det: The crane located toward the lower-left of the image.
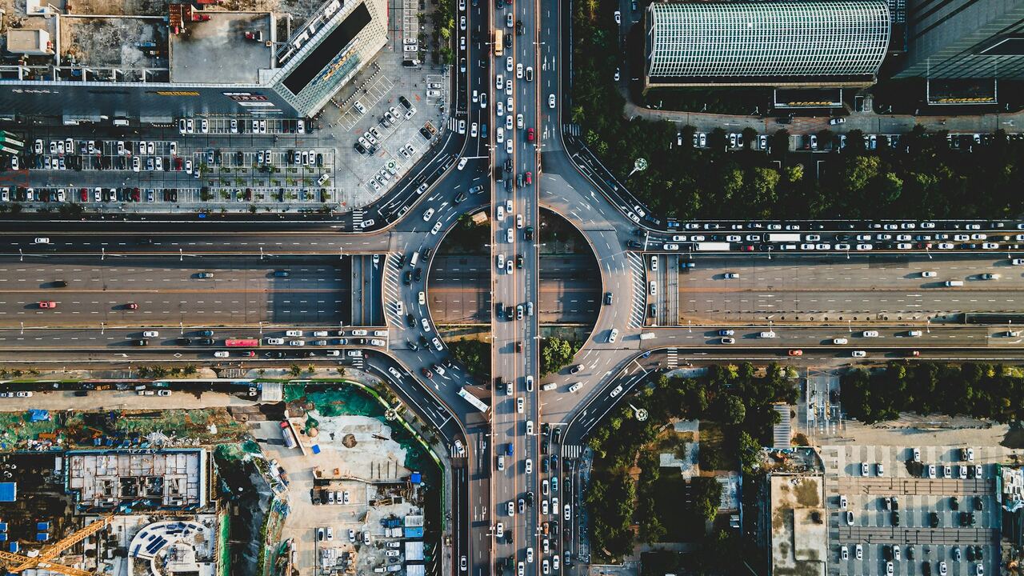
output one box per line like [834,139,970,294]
[1,514,117,576]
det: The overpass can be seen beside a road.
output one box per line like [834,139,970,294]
[490,0,540,576]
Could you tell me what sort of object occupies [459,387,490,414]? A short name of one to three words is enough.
bus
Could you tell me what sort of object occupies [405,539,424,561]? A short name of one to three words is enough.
shed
